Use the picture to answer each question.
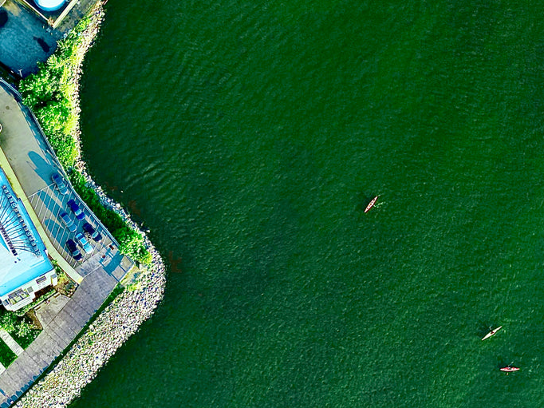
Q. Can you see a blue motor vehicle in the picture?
Yes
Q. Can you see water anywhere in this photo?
Yes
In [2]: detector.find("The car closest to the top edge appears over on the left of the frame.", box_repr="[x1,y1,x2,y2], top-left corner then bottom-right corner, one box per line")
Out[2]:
[52,174,69,197]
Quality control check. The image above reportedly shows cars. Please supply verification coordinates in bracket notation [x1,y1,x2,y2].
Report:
[64,238,84,261]
[66,198,86,221]
[57,210,78,232]
[75,231,95,254]
[52,174,69,197]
